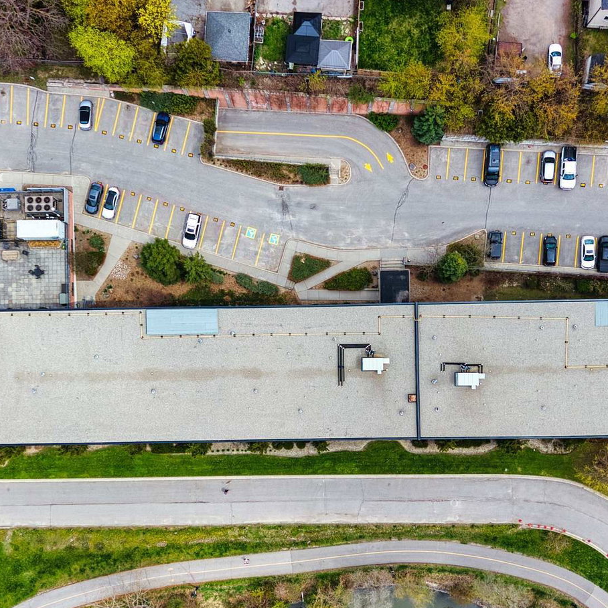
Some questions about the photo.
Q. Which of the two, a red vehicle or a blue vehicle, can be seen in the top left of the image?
blue vehicle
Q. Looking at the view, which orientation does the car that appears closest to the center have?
from top to bottom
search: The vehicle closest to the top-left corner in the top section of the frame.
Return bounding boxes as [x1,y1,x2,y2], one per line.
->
[77,98,94,133]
